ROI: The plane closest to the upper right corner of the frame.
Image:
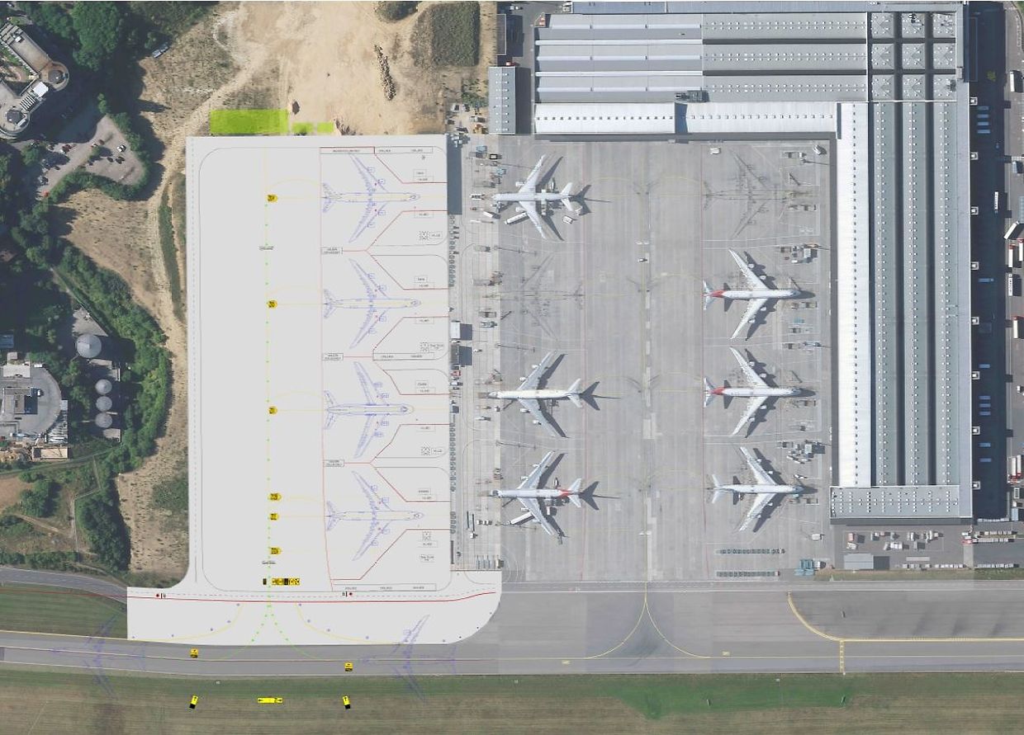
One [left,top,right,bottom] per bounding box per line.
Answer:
[704,250,801,339]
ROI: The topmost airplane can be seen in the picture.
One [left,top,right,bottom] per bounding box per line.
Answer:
[493,155,574,238]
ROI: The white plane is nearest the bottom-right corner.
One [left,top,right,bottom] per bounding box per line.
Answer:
[712,447,804,532]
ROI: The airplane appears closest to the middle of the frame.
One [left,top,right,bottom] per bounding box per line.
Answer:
[489,351,582,437]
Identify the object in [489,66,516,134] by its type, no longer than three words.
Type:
building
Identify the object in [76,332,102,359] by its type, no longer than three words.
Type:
silo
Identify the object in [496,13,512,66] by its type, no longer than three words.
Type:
shed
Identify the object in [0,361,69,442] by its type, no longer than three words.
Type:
building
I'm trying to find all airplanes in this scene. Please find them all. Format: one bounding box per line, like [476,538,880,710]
[712,447,804,532]
[491,452,584,538]
[489,351,582,437]
[493,155,574,238]
[704,250,801,339]
[705,347,802,437]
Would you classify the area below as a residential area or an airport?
airport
